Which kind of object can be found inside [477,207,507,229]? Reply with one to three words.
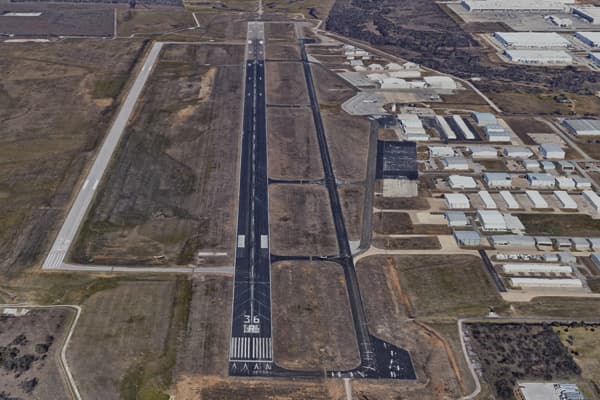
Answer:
hangar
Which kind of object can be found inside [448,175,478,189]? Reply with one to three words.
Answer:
building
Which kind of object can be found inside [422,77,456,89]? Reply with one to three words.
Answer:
hangar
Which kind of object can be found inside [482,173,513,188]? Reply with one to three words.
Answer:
building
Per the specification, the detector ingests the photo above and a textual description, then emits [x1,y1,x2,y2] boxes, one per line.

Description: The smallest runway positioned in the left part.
[42,42,163,269]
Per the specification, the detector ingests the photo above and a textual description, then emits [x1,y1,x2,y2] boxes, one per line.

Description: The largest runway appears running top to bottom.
[228,31,273,377]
